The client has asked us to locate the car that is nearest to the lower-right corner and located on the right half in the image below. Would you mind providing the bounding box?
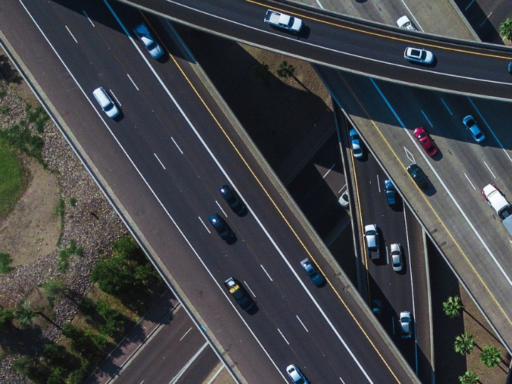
[398,309,412,339]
